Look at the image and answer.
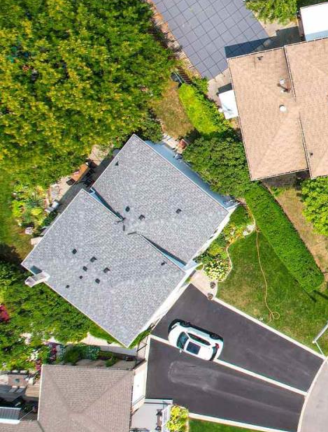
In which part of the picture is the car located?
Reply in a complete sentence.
The car is located in the bottom region of the scene.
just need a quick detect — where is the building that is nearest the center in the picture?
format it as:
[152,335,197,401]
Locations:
[21,133,243,349]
